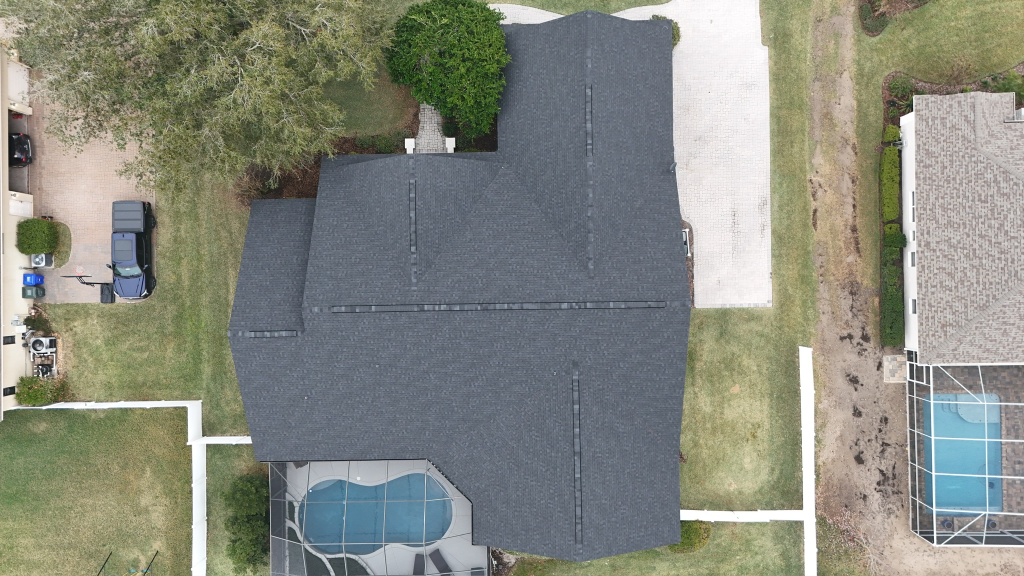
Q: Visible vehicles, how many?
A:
two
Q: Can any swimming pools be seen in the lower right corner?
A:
Yes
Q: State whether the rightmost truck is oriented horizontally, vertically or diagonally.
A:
vertically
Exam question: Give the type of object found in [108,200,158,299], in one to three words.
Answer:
truck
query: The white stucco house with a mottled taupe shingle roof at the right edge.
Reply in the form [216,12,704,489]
[900,91,1024,367]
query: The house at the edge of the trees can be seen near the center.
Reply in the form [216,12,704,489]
[229,11,691,562]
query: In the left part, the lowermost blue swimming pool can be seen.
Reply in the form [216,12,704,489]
[295,469,457,559]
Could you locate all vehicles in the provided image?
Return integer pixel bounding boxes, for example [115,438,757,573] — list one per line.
[108,200,158,299]
[8,134,35,168]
